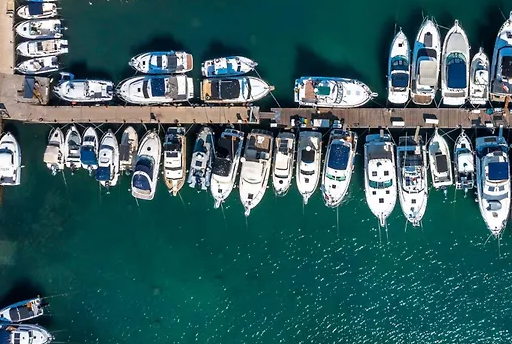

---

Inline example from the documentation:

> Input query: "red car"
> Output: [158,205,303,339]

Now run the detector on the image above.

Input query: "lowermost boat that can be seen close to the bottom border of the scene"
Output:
[0,322,70,344]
